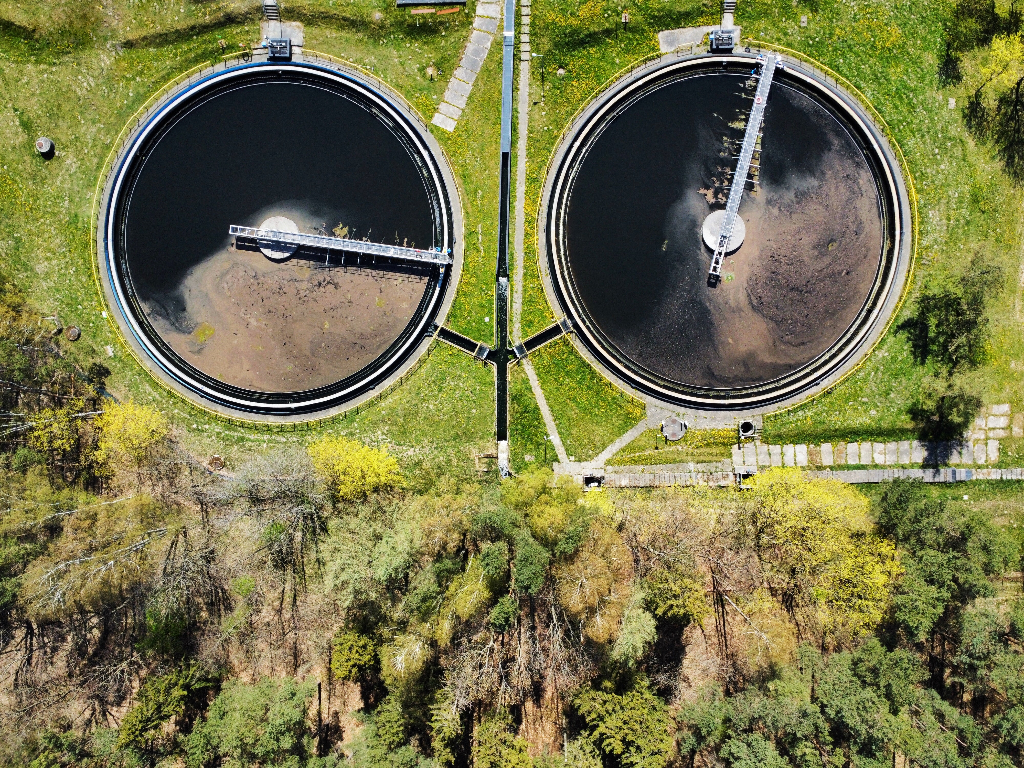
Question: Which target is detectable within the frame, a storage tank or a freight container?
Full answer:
I can see a storage tank in this picture.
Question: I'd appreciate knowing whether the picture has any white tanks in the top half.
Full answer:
Yes, looking in the top half, one can make out a white tank.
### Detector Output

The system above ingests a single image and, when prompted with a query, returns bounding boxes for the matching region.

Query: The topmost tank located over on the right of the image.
[544,50,906,412]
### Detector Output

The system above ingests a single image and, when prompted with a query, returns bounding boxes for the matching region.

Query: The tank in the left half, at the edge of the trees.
[102,60,456,414]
